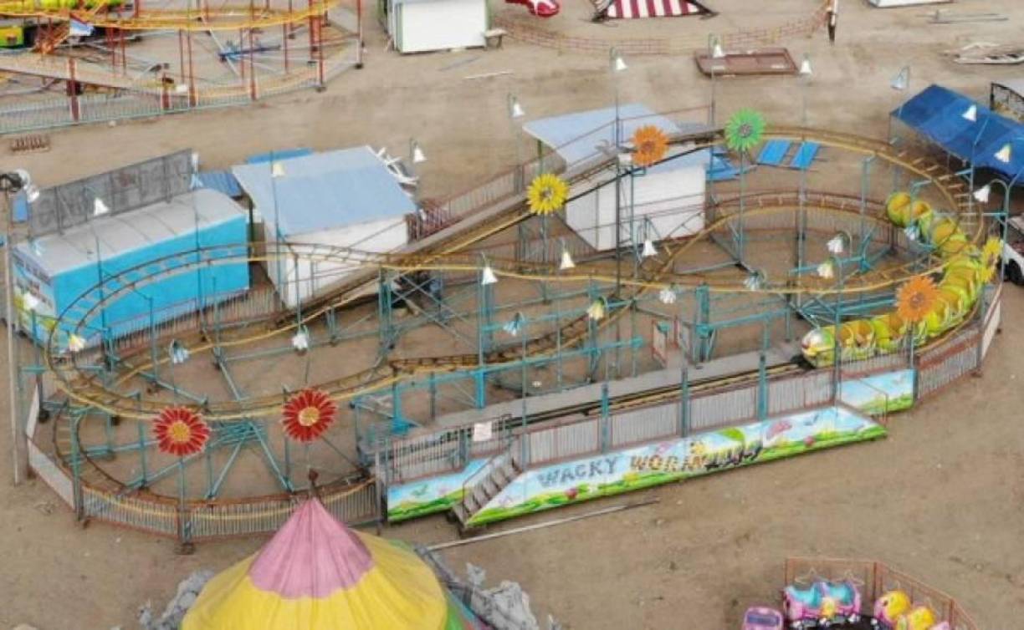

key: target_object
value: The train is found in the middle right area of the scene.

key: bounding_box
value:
[796,191,994,373]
